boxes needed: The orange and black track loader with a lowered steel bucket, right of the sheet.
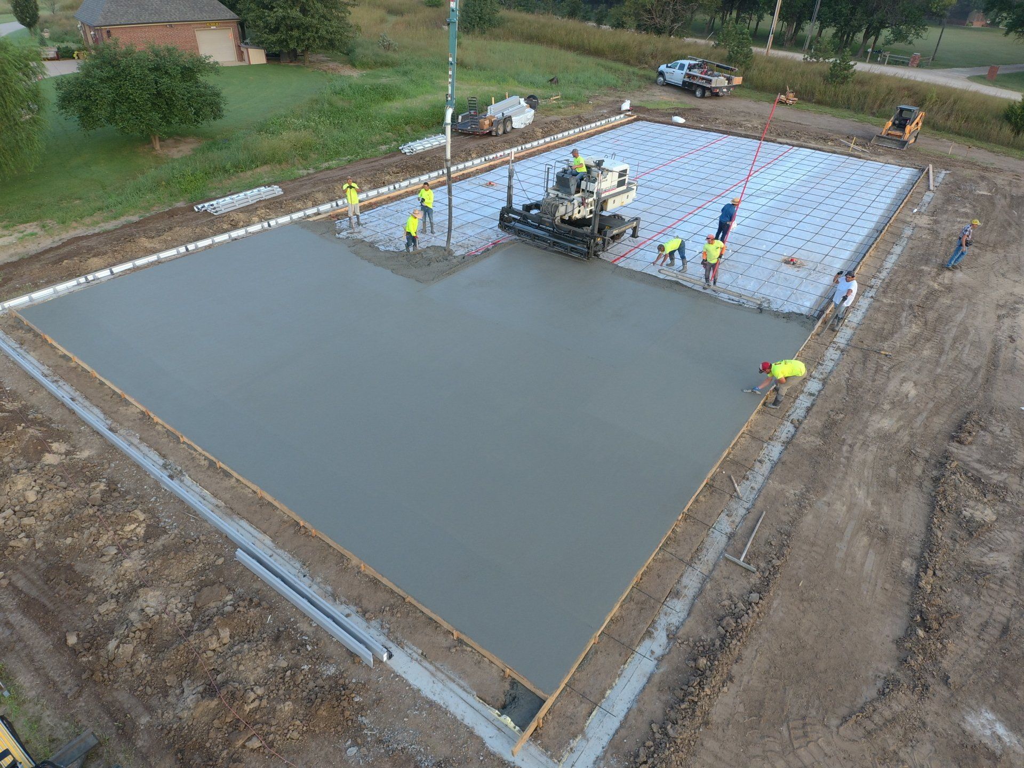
[872,102,937,150]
